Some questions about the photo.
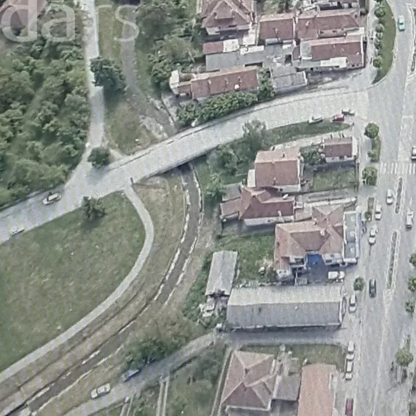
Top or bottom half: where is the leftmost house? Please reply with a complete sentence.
Seen from above, the leftmost house lies in the top half of the view.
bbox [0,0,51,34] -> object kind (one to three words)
house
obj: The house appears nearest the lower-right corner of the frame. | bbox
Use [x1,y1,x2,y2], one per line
[299,364,337,416]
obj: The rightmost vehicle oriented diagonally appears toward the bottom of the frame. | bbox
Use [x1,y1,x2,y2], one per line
[119,369,136,382]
